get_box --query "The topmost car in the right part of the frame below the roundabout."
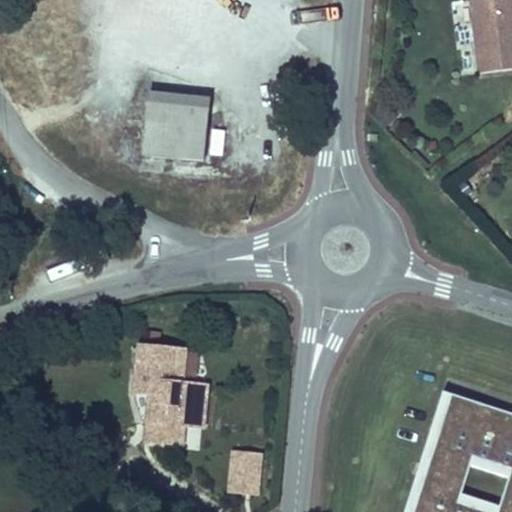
[416,371,436,383]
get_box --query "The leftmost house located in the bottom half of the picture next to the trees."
[132,330,210,451]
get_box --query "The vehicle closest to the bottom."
[397,429,420,442]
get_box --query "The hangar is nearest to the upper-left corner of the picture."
[142,91,210,161]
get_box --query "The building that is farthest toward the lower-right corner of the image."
[404,390,512,512]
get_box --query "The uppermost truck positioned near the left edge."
[22,180,46,203]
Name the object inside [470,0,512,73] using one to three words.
house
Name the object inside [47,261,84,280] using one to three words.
vehicle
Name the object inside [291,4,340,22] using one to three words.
vehicle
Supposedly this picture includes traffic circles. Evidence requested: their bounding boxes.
[268,162,434,332]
